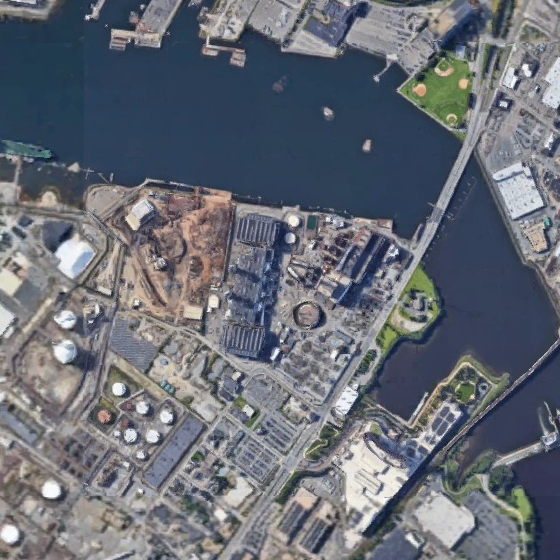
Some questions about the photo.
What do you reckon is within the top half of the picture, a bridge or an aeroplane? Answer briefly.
bridge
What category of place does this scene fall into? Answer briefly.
port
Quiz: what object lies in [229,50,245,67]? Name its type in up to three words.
ship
